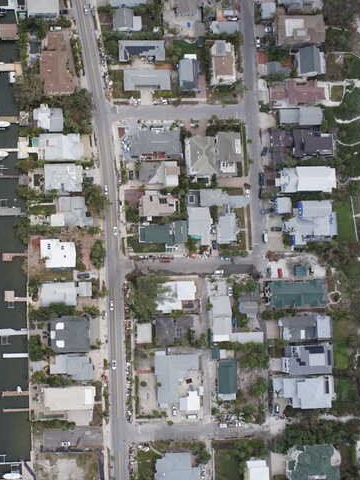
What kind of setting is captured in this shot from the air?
residential area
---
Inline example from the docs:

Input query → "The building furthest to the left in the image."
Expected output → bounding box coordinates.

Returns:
[0,24,20,43]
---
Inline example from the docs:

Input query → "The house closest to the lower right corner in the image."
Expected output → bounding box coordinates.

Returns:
[284,441,342,480]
